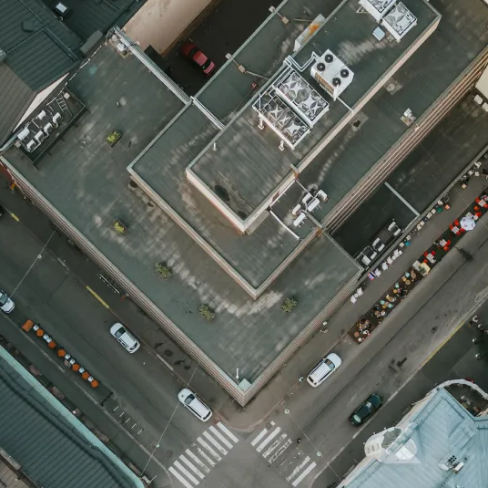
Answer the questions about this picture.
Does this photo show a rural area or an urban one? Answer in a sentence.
This place is urban.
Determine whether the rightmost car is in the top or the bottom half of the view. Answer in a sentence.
Seen from above, the rightmost car lies in the bottom half of the view.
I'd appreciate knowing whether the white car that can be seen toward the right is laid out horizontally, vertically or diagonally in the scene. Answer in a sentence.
The white car that can be seen toward the right is laid out diagonally.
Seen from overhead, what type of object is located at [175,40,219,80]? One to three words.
car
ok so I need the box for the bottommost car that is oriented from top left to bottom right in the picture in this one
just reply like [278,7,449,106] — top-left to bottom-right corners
[174,385,216,425]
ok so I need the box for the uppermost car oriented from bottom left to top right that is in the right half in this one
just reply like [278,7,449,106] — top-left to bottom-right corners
[302,349,345,391]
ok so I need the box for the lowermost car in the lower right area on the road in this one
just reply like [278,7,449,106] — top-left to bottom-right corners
[345,389,386,430]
